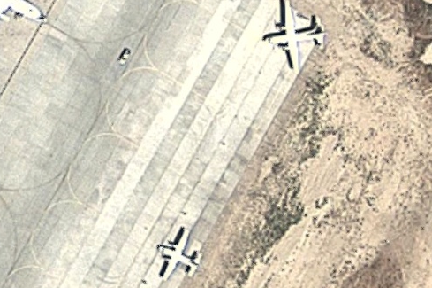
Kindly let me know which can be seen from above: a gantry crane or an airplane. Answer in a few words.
airplane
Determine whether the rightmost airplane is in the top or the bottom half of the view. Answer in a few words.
top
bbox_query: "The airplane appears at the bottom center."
[160,227,202,280]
